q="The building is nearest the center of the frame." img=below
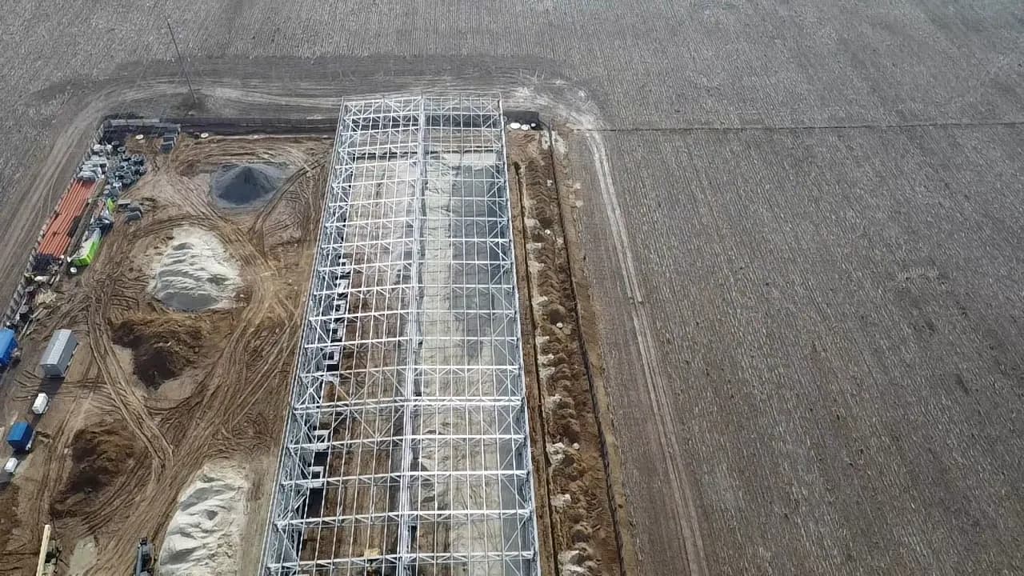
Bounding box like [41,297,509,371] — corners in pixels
[252,90,540,576]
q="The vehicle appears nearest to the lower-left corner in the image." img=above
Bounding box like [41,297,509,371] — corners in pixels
[29,518,66,576]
